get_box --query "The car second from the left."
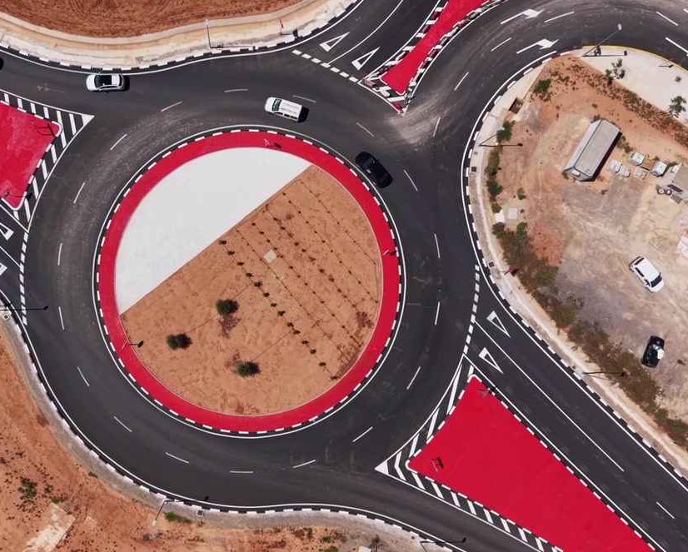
[264,98,305,123]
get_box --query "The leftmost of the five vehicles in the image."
[86,72,126,93]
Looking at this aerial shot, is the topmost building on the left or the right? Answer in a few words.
right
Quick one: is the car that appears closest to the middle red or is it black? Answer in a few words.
black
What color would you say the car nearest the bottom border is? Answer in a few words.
black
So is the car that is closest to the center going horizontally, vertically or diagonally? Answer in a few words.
diagonally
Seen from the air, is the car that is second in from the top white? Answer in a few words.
Yes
